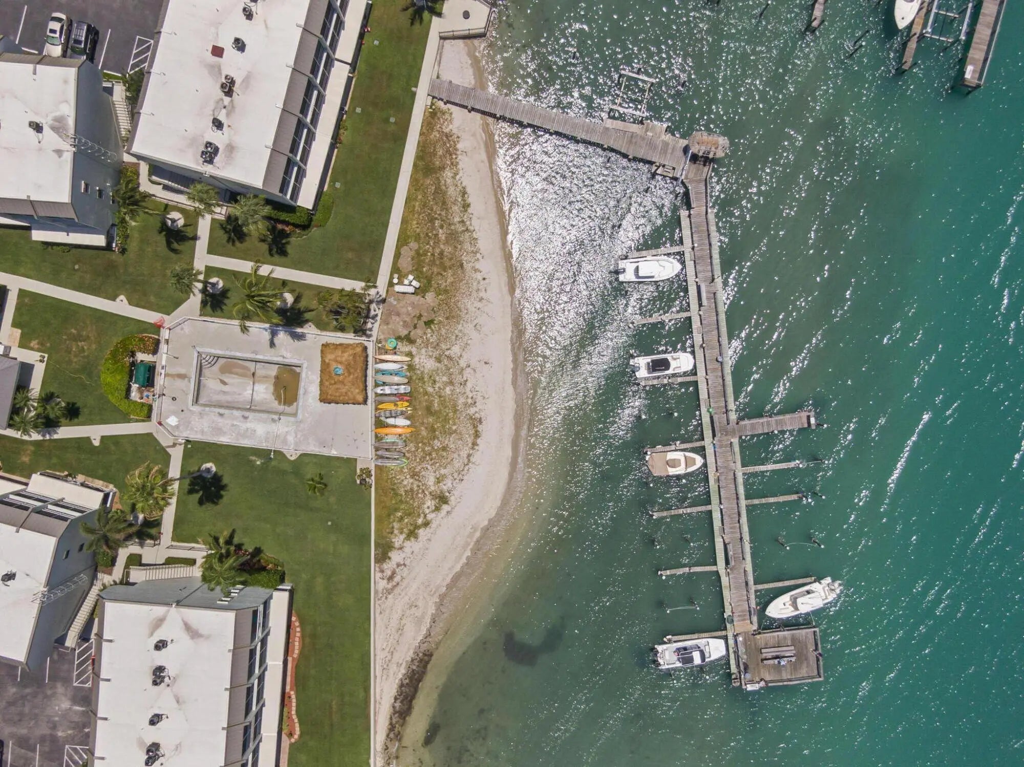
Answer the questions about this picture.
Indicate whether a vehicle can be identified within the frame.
Yes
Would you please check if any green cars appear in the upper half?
No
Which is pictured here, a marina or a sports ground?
marina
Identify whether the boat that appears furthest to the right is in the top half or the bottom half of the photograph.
top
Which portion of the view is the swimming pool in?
left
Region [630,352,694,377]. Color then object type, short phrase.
white boat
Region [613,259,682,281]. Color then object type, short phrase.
white boat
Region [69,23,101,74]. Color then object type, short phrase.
black car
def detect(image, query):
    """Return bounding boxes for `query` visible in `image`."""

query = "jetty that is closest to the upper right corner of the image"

[955,0,1006,91]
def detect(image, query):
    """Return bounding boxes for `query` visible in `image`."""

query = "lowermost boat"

[649,637,726,668]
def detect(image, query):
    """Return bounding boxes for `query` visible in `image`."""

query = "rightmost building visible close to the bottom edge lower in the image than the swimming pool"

[88,560,294,767]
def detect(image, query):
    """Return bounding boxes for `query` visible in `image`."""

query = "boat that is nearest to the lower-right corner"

[763,576,845,614]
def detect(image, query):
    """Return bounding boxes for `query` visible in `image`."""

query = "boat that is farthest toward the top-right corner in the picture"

[887,0,921,36]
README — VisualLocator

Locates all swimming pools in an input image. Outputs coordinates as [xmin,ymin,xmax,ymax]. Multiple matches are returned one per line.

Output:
[158,318,372,459]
